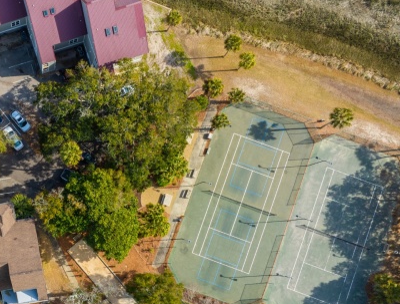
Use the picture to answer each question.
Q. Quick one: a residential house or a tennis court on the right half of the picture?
tennis court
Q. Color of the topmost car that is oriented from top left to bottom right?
blue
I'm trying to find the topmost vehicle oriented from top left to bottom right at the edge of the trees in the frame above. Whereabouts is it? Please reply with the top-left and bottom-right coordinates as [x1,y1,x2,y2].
[9,109,31,134]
